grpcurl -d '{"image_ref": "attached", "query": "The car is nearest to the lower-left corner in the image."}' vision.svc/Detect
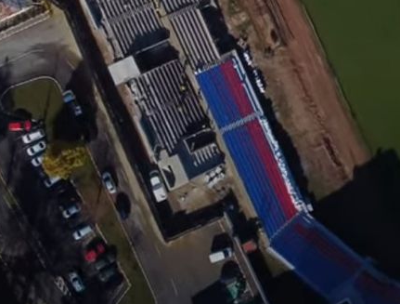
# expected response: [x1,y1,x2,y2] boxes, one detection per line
[66,273,83,293]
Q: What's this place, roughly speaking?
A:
sports ground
